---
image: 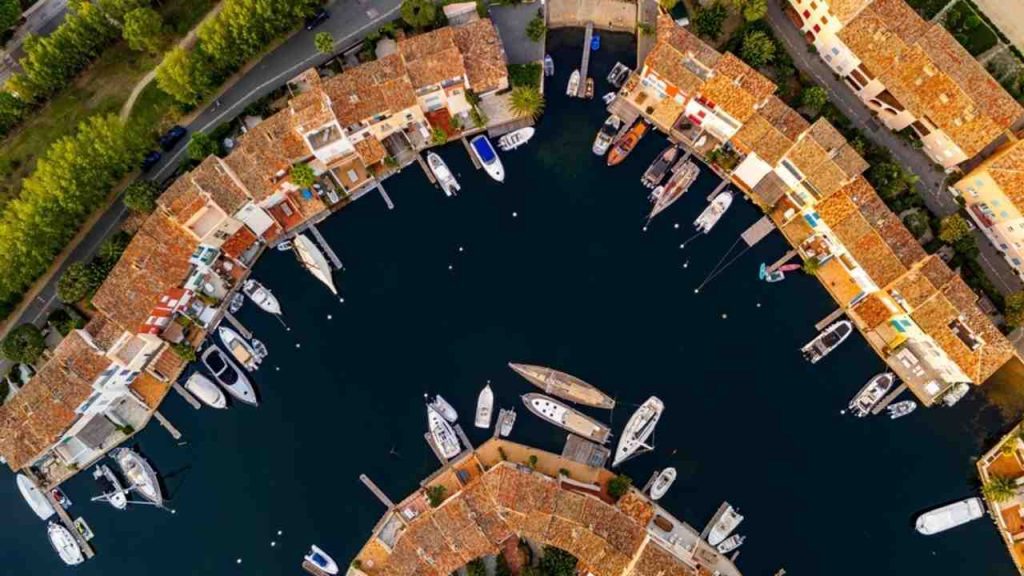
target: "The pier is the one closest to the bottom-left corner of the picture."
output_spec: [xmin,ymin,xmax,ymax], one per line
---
[45,488,98,559]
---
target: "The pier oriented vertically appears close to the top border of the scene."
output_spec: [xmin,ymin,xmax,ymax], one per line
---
[574,24,592,98]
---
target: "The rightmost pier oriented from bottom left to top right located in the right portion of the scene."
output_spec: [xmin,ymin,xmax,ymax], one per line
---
[871,381,907,416]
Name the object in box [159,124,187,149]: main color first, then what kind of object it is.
black car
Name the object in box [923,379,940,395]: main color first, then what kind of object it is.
white umbrella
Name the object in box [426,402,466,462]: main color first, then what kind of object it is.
white boat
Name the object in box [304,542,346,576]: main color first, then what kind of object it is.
white boat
